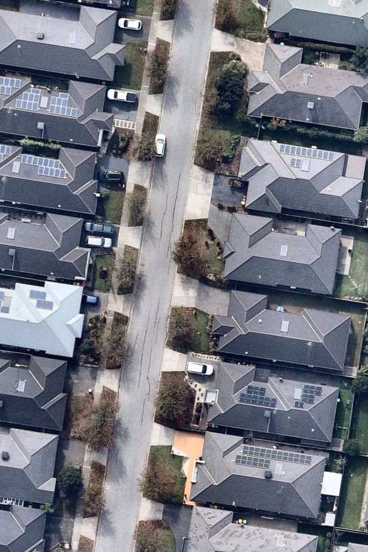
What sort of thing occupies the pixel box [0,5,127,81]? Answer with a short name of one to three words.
house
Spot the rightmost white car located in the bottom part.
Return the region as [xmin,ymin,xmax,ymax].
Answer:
[187,362,213,376]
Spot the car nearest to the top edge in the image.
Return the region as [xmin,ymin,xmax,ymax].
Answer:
[117,18,143,31]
